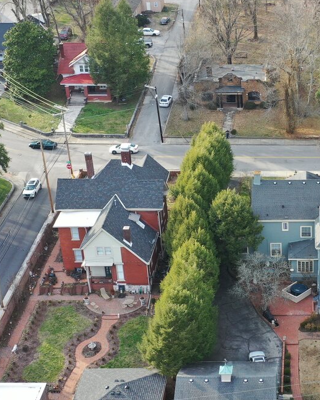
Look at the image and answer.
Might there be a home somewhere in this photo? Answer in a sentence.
Yes, I can see a home in this picture.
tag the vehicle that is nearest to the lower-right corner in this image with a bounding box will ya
[249,345,266,362]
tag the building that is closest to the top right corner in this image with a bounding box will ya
[195,64,268,110]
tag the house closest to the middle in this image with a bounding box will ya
[50,139,181,297]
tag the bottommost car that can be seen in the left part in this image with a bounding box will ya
[20,174,44,195]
